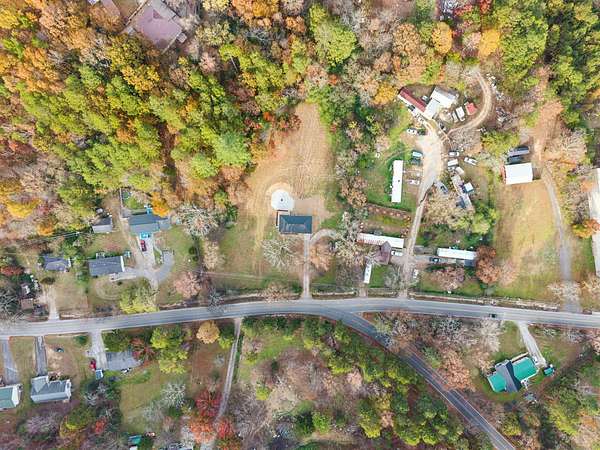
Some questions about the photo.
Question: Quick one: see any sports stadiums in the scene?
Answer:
No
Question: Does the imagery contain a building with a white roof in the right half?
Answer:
Yes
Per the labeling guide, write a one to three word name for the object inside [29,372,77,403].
house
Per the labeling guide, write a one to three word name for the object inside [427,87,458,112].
building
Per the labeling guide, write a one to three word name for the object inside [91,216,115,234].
shed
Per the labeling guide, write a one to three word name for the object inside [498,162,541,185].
barn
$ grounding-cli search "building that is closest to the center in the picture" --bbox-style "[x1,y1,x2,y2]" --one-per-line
[279,214,312,235]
